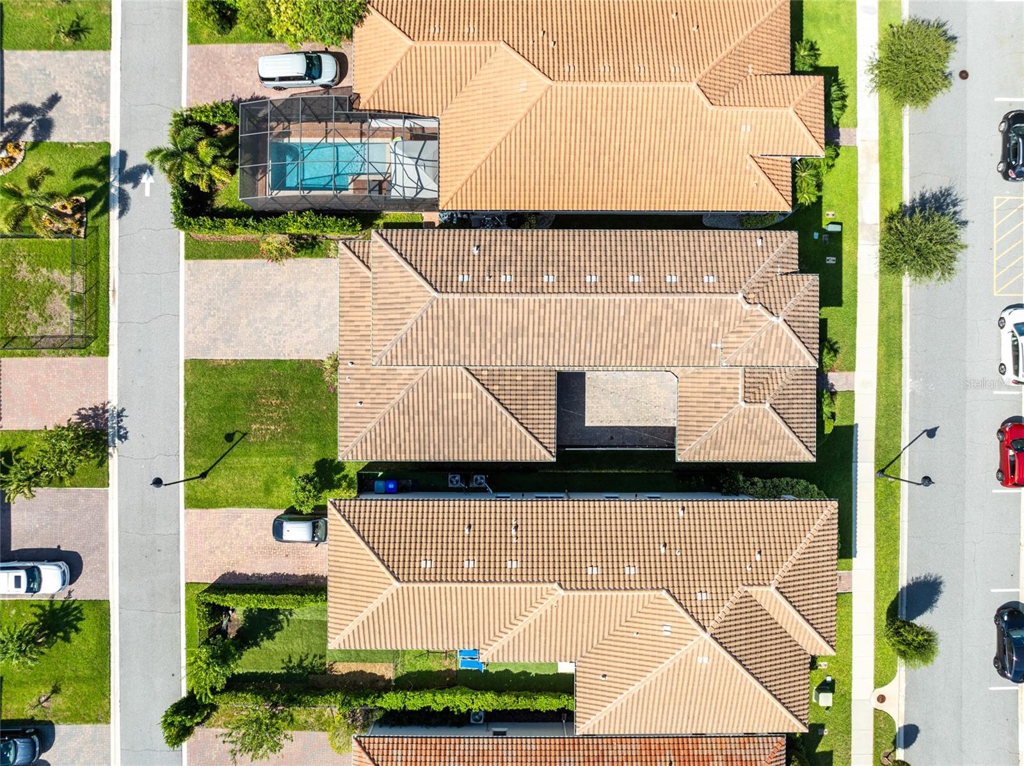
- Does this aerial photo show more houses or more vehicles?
vehicles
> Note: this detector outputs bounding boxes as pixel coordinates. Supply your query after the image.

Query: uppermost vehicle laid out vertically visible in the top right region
[995,113,1024,183]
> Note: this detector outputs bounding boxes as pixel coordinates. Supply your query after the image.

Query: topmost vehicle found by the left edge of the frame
[0,560,73,597]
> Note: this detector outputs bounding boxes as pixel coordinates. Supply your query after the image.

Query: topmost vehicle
[260,52,337,92]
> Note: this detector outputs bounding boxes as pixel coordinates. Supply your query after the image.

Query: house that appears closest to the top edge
[351,0,828,214]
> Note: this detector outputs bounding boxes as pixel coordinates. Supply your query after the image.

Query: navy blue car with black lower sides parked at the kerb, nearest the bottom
[991,601,1024,678]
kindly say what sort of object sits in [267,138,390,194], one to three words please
swimming pool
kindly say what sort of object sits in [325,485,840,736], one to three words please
house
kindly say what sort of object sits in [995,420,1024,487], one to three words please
car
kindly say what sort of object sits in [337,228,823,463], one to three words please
house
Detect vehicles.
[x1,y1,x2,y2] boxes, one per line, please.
[995,113,1024,183]
[274,513,326,548]
[0,560,73,597]
[0,729,43,766]
[996,307,1024,385]
[260,52,337,92]
[995,420,1024,487]
[991,601,1024,678]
